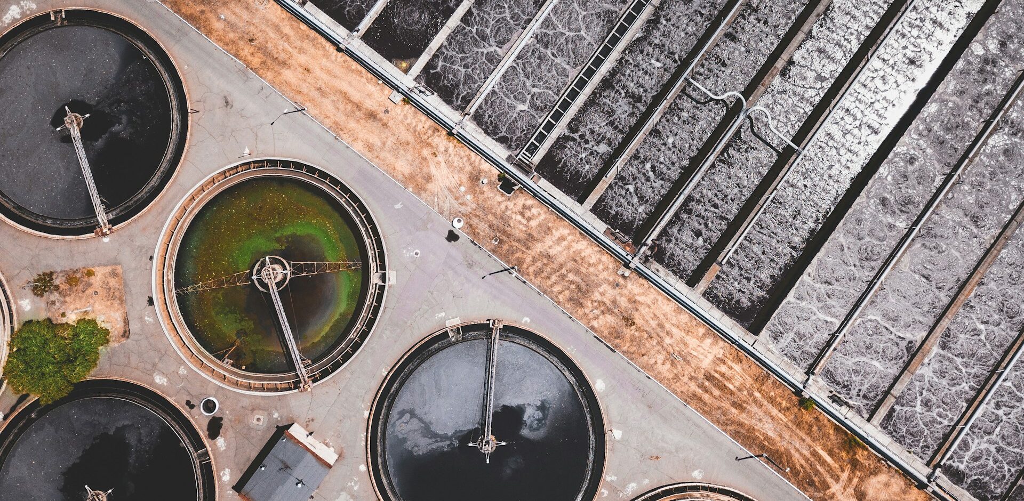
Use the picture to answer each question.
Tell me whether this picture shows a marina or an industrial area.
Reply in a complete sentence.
The picture captures an industrial area.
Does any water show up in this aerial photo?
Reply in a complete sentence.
Yes, there's water in this view.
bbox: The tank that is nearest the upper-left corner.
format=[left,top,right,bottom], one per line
[0,7,193,238]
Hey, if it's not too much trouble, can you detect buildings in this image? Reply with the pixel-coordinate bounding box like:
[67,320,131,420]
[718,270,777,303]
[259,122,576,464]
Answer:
[235,421,340,501]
